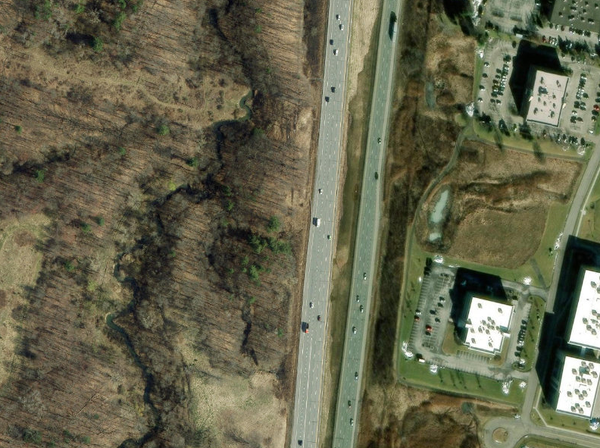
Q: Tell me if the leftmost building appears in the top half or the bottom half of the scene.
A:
bottom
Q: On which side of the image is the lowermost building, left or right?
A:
right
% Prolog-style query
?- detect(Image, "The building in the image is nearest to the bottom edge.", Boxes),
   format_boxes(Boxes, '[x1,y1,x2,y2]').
[549,351,600,420]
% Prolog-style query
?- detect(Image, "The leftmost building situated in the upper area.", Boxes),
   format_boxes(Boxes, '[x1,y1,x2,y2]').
[521,66,569,128]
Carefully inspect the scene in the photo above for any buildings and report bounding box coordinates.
[459,293,514,354]
[546,0,600,33]
[562,264,600,350]
[521,66,569,128]
[549,351,600,420]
